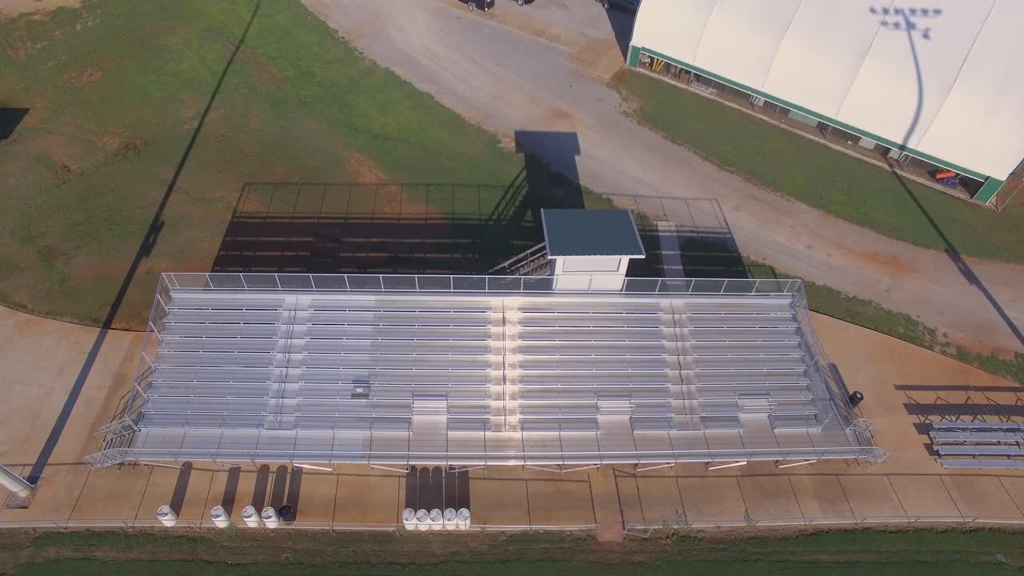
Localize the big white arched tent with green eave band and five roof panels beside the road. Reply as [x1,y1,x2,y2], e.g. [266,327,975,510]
[624,0,1024,207]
